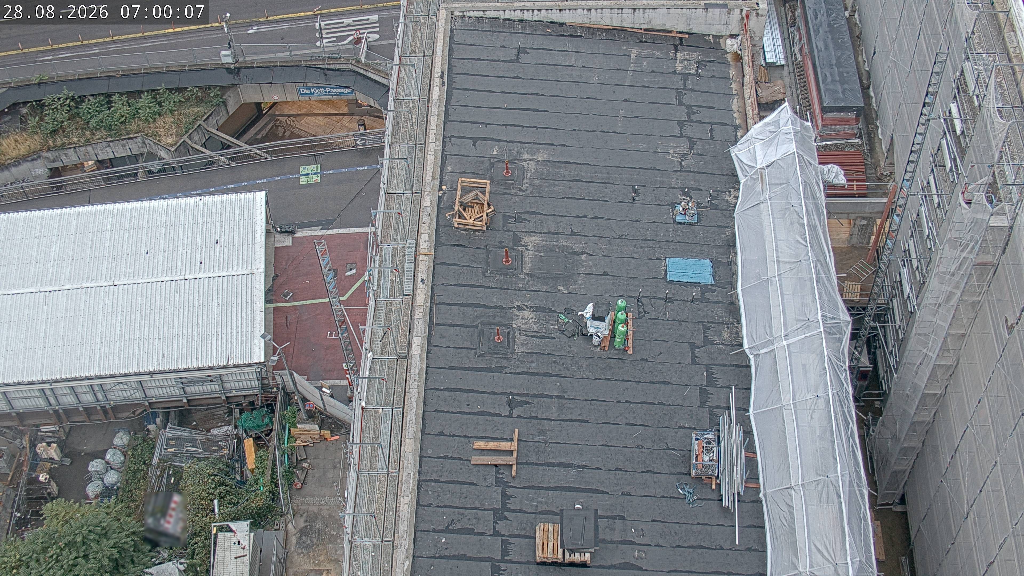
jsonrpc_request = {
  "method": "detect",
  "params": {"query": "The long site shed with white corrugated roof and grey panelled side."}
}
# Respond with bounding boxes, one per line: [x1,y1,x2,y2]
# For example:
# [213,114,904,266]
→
[0,191,278,427]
